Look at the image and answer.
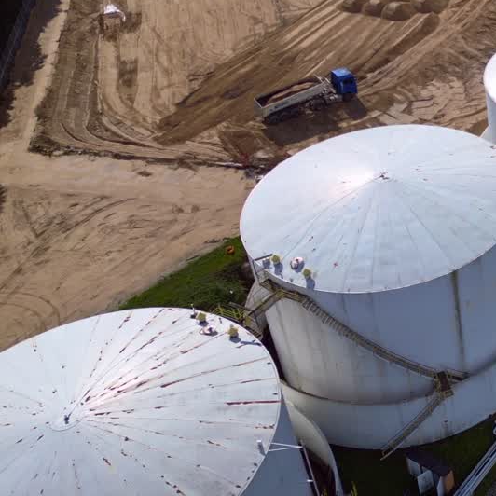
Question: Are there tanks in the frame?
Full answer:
Yes, there's a tank here.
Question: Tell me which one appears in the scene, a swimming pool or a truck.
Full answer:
There is a truck in the scene.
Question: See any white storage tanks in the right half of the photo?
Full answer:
Yes, looking in the right half of the photo, one can make out a white storage tank.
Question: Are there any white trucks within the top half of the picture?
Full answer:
No, there's no white truck to be seen within the top half of the picture.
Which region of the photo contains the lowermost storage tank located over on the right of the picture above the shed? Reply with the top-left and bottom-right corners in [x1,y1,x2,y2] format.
[239,125,496,401]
